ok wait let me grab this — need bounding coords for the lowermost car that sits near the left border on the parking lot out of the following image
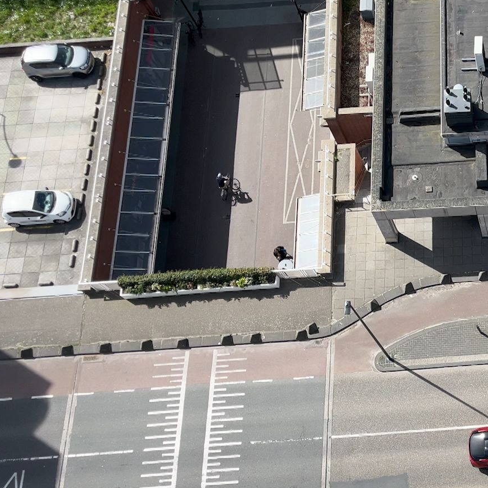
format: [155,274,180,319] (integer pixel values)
[3,187,78,231]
